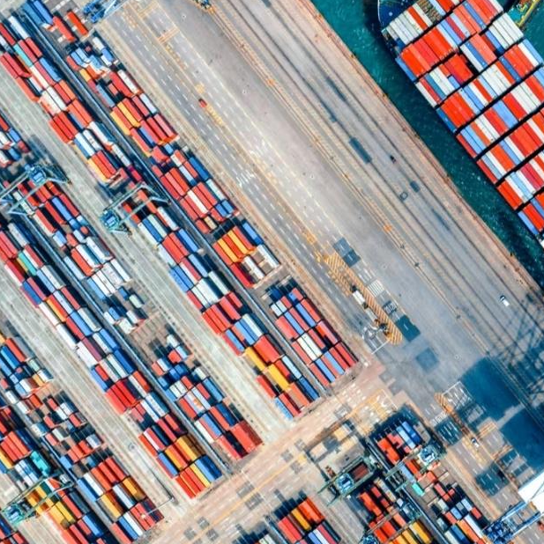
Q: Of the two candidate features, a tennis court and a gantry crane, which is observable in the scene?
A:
gantry crane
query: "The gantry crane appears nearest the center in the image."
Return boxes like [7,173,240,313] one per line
[90,182,177,244]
